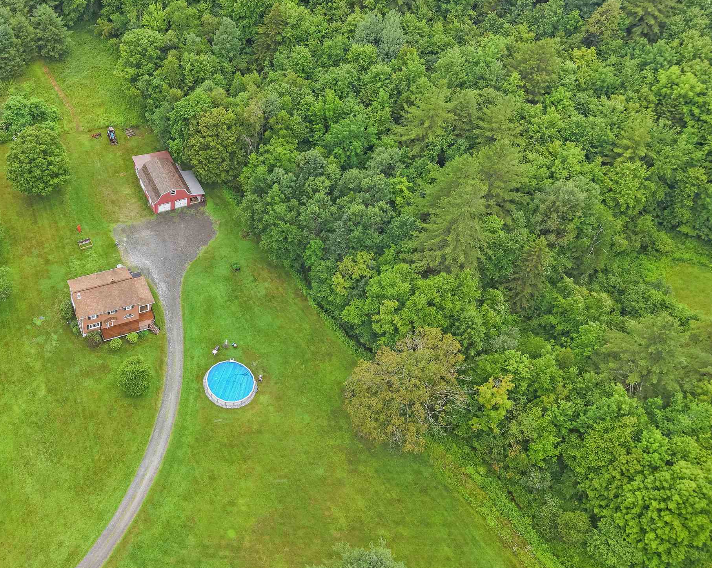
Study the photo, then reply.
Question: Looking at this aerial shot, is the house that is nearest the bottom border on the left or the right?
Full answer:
The house that is nearest the bottom border is on the left side of the image.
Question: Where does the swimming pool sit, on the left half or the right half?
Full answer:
You can find the swimming pool on the left side of the picture.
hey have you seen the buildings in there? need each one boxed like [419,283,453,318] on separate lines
[132,151,205,214]
[68,267,160,342]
